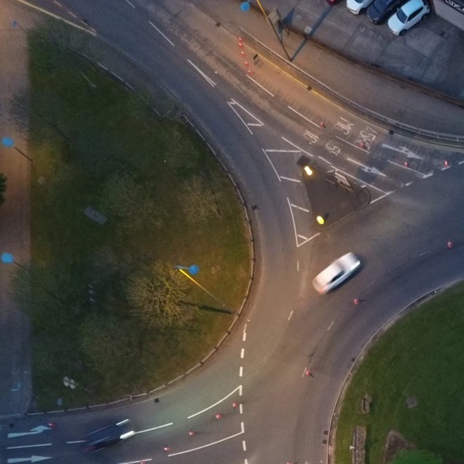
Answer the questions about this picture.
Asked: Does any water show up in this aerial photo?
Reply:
No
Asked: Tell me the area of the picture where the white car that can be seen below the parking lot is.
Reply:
right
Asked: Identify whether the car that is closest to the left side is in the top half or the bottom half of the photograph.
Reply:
bottom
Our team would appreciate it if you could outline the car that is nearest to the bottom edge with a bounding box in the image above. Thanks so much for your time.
[84,421,133,451]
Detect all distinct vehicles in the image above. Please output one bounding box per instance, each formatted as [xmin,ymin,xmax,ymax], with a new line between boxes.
[368,0,409,23]
[388,0,432,34]
[348,0,376,13]
[314,254,362,294]
[84,421,133,451]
